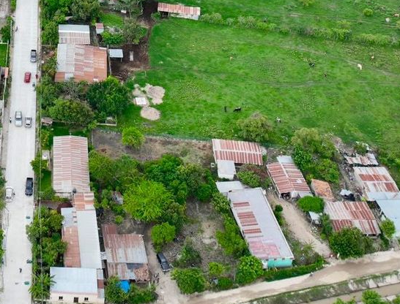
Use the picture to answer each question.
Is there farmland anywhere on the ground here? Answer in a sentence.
Yes, there is farmland in the image.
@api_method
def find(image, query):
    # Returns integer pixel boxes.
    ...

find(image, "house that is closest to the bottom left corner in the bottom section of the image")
[50,265,97,303]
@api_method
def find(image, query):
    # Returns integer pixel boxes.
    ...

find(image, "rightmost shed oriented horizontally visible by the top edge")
[158,2,200,21]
